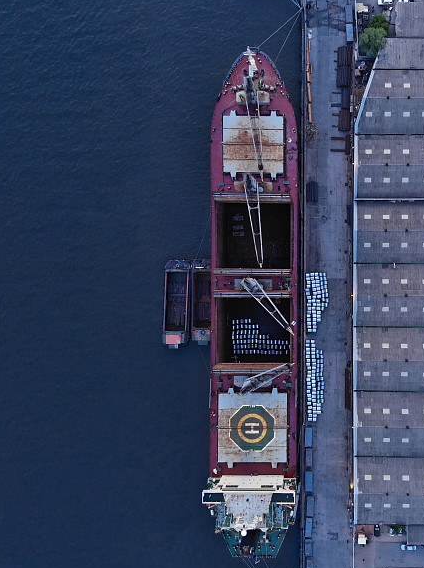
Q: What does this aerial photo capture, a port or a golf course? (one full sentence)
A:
It's a port.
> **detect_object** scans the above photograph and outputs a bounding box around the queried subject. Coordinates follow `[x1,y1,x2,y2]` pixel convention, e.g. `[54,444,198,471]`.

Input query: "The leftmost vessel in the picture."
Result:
[162,259,190,347]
